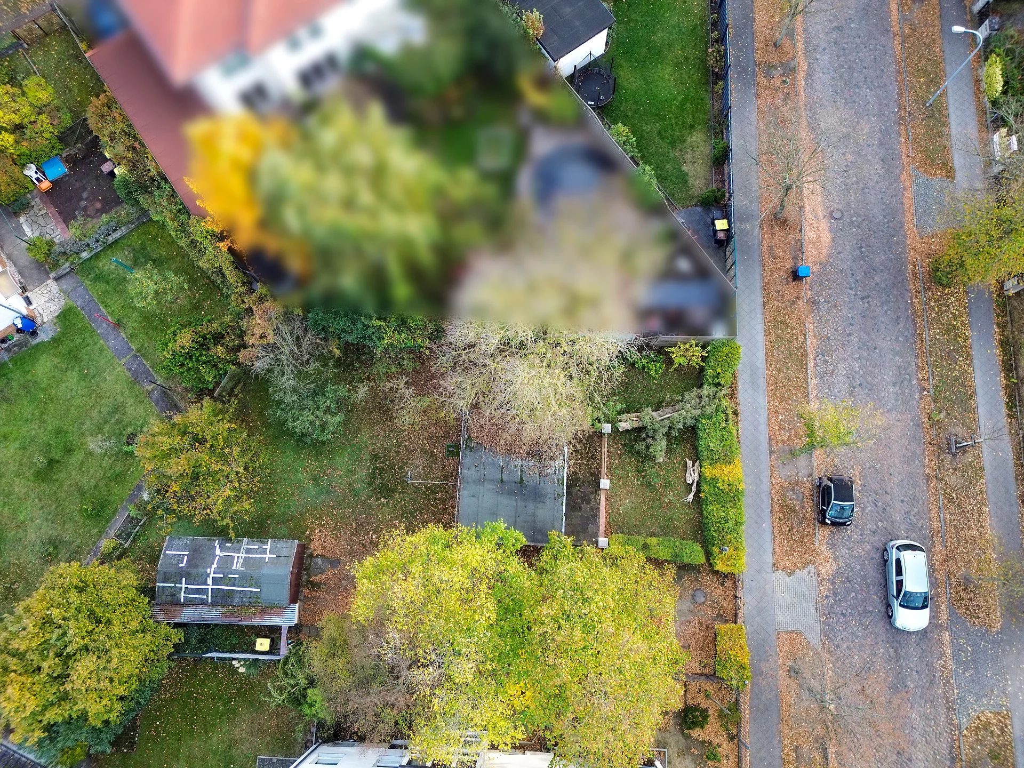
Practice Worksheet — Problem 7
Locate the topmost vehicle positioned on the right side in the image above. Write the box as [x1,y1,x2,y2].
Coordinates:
[814,473,862,529]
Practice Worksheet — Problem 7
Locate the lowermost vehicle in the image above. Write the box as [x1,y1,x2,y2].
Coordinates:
[879,538,936,633]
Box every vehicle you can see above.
[879,538,936,633]
[814,473,862,529]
